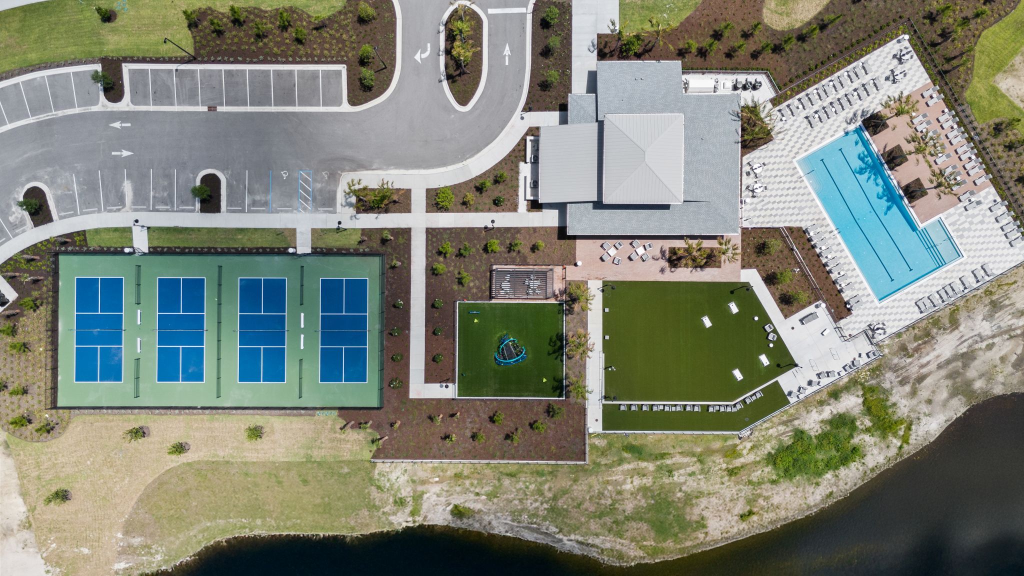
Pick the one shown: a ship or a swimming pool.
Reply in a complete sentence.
There is a swimming pool in the scene.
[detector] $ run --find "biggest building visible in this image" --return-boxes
[539,60,741,236]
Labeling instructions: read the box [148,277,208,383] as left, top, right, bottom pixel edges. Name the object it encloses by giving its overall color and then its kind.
blue sports court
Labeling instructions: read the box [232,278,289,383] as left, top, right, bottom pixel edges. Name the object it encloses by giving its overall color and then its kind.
blue sports court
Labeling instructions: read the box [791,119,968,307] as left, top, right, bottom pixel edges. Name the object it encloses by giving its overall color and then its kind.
blue swimming pool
